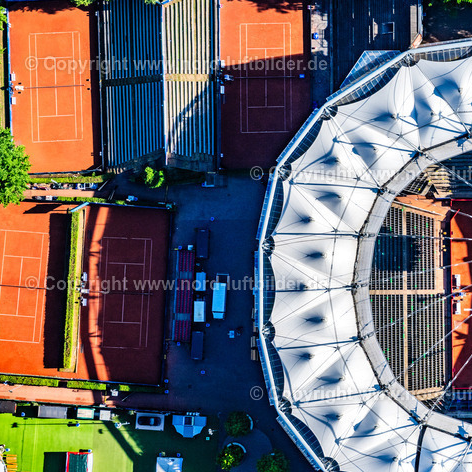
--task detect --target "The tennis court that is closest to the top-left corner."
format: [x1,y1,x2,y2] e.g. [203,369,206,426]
[6,1,102,173]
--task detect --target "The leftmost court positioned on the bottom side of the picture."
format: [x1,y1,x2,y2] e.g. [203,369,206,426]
[0,202,79,379]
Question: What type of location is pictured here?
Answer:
sports ground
